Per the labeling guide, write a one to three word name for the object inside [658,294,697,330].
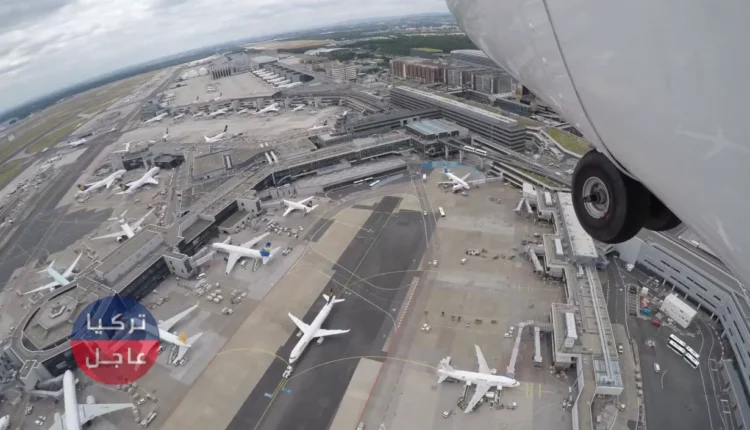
building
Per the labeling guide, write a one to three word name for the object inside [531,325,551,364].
jet bridge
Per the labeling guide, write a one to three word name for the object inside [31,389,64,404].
jet bridge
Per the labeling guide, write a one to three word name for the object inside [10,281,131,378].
building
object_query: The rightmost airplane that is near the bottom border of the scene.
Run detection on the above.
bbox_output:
[438,341,518,409]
